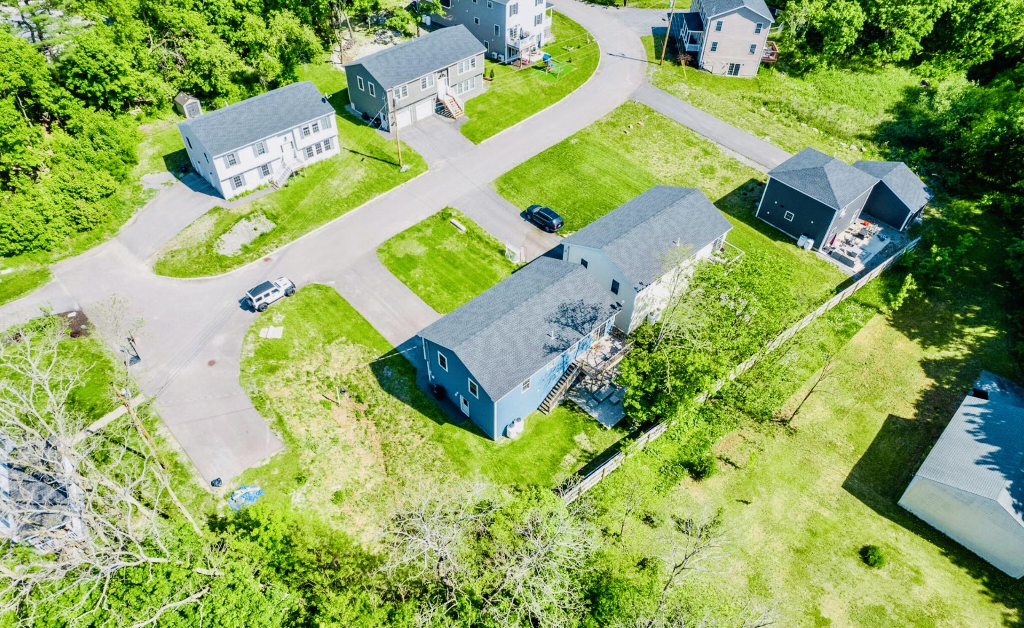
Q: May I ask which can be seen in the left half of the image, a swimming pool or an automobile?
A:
automobile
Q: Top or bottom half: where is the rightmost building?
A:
bottom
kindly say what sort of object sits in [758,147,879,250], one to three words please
house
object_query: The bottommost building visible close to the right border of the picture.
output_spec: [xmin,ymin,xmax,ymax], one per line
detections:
[898,396,1024,579]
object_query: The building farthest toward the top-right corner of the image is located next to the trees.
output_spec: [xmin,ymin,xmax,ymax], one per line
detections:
[849,158,935,230]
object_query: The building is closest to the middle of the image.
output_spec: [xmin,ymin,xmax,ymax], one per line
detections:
[418,256,620,441]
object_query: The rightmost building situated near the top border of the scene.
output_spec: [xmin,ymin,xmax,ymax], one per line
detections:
[682,0,774,74]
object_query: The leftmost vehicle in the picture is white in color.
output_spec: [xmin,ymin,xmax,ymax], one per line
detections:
[243,278,295,312]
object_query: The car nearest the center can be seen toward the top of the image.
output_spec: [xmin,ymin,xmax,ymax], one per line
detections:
[524,203,565,232]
